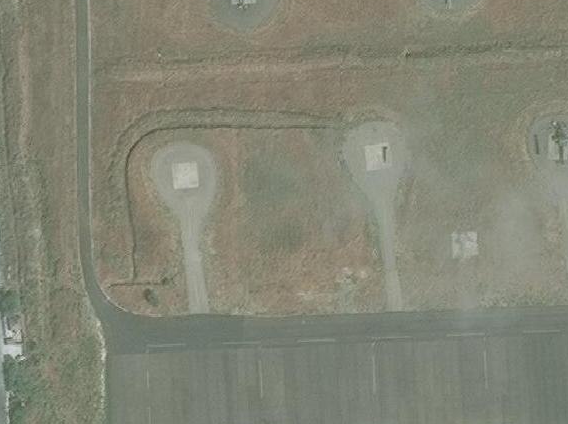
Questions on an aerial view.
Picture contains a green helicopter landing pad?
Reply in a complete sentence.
No, this view has no green helicopter landing pad in it.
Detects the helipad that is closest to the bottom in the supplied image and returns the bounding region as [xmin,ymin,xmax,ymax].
[452,231,478,259]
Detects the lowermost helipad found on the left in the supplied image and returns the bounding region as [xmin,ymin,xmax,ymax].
[172,162,199,190]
